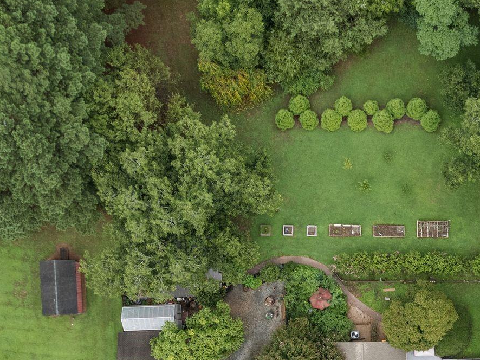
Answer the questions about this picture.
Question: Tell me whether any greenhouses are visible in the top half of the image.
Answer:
No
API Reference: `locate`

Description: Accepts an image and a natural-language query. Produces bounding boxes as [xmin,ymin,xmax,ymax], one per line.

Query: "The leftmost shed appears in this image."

[39,248,83,316]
